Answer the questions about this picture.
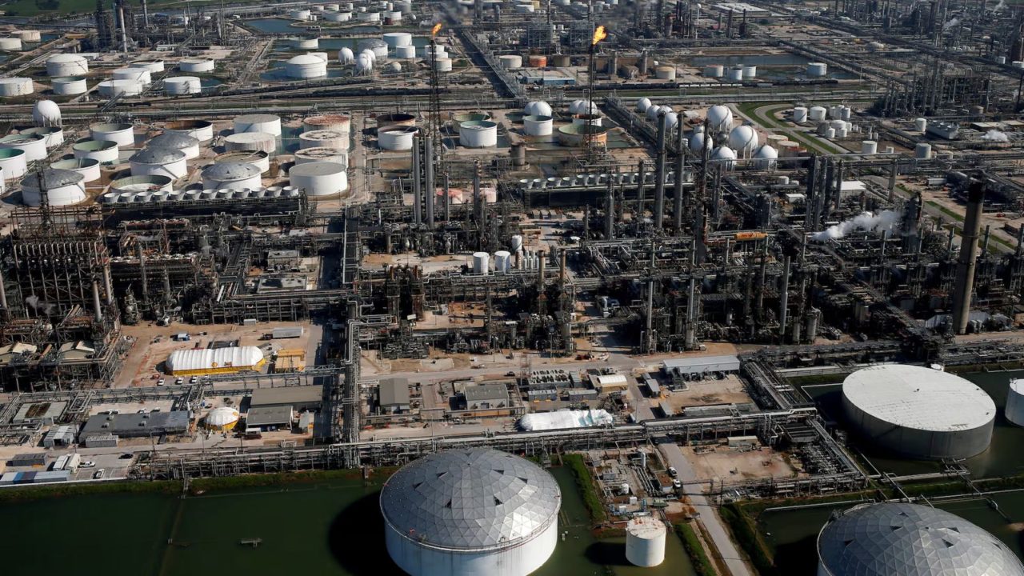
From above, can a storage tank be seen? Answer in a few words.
Yes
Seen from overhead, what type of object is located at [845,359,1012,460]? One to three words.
storage tank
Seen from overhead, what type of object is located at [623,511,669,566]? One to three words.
storage tank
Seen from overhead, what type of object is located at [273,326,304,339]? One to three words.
building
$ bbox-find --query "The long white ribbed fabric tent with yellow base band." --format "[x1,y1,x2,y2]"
[168,346,272,375]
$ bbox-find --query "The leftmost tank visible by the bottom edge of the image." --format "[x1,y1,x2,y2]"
[377,450,564,576]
